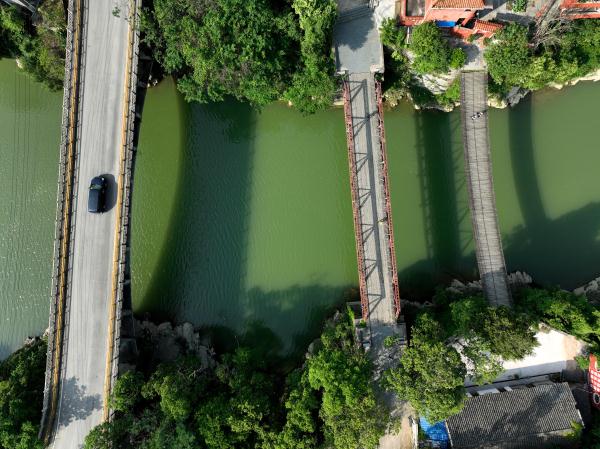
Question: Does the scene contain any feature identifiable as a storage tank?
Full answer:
No, I can't see a single storage tank in this photo.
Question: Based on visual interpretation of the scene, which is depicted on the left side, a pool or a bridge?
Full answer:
The feature located on the left side is a bridge.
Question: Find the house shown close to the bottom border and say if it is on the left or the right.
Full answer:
The house shown close to the bottom border sits on the right side.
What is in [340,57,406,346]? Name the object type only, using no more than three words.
bridge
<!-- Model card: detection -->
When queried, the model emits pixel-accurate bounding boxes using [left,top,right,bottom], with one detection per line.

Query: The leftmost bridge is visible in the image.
[37,0,159,449]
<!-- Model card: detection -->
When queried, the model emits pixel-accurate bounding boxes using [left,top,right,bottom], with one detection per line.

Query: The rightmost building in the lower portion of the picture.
[442,380,589,449]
